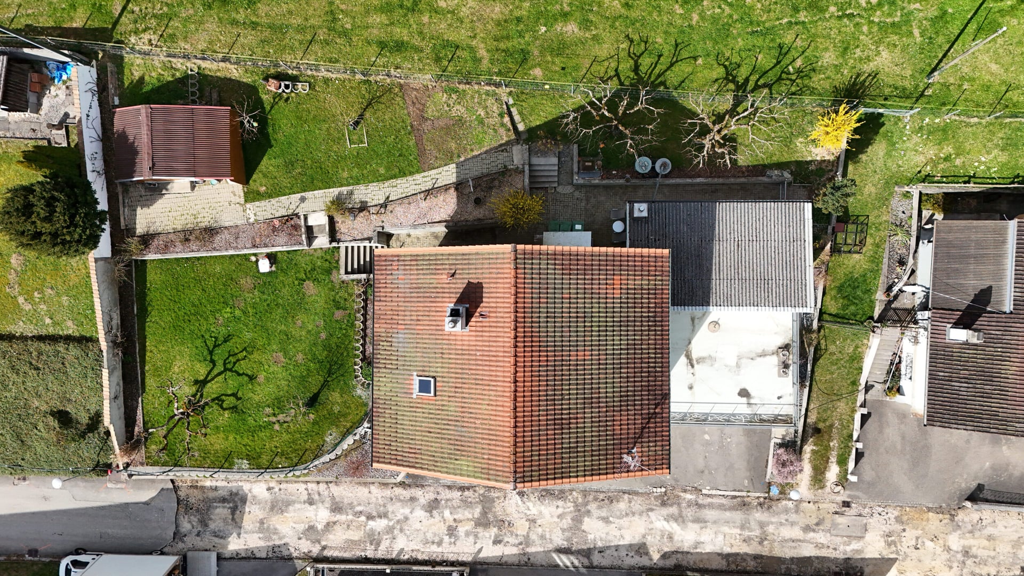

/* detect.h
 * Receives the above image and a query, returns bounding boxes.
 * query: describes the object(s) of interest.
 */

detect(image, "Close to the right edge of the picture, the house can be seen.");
[887,216,1024,432]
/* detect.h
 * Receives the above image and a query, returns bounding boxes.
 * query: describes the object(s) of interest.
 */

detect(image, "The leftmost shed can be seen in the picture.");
[0,52,31,113]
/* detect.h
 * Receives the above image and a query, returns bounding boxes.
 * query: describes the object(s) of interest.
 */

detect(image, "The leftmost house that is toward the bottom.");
[369,244,673,493]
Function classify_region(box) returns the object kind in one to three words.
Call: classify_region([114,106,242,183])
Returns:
shed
